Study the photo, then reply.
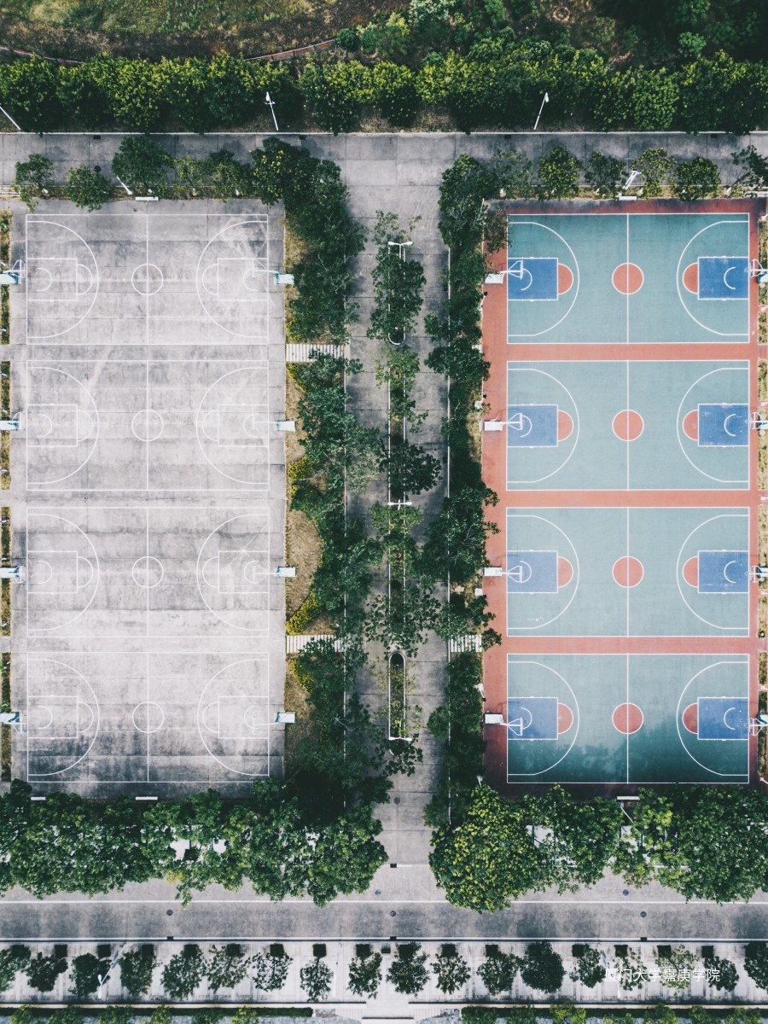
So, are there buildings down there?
No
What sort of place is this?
sports ground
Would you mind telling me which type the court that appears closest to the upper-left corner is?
basketball court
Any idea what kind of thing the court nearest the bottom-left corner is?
basketball court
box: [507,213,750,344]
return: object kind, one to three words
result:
basketball court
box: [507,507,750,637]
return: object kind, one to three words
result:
basketball court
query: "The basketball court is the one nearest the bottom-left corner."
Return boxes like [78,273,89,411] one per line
[27,652,269,783]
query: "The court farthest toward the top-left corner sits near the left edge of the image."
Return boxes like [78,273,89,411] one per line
[26,214,268,344]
